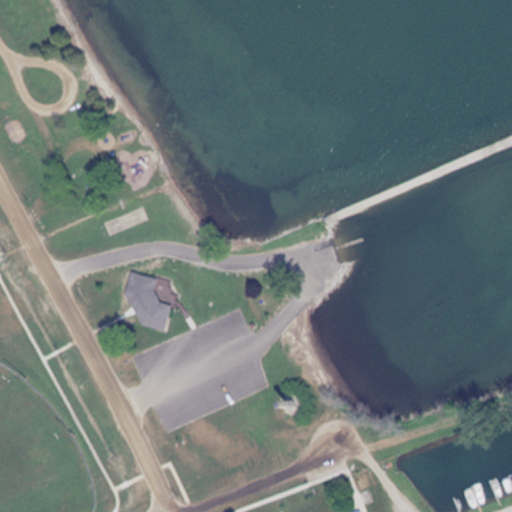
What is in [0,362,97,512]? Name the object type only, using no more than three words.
baseball field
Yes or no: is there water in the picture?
Yes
